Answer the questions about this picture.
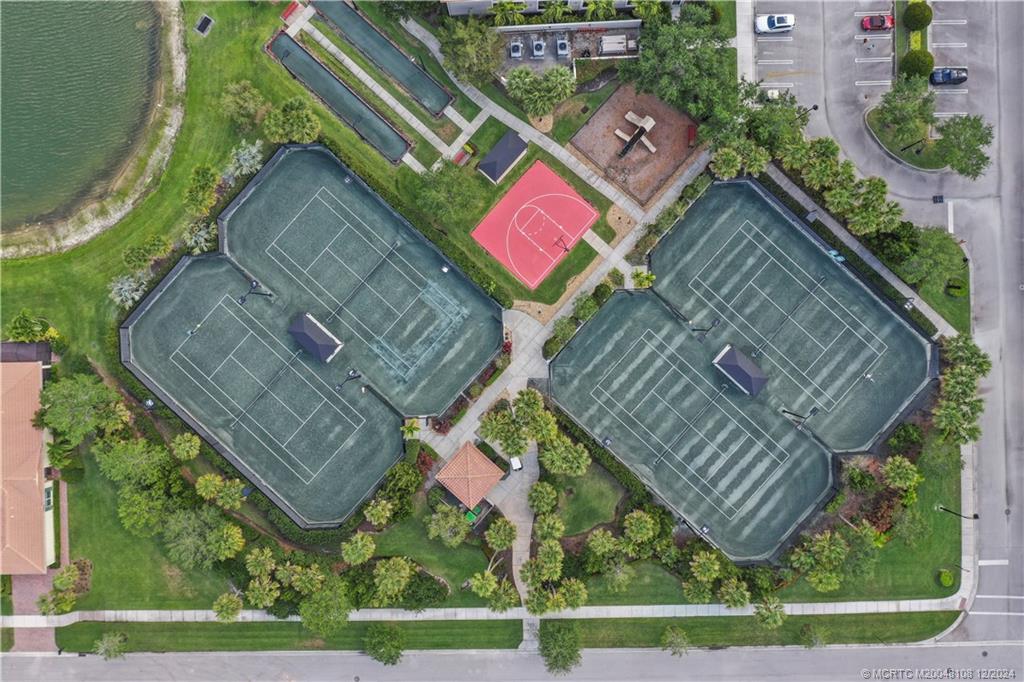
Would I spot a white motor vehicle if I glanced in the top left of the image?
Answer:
No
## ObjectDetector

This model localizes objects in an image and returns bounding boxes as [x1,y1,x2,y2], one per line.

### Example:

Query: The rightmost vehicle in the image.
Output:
[930,66,971,85]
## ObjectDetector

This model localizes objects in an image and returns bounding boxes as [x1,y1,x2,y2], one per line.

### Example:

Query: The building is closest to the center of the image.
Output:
[435,441,505,511]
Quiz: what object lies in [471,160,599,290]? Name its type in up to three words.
basketball court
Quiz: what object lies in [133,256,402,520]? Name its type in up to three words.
tennis court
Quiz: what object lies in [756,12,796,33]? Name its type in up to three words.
car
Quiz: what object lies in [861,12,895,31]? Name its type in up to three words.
car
